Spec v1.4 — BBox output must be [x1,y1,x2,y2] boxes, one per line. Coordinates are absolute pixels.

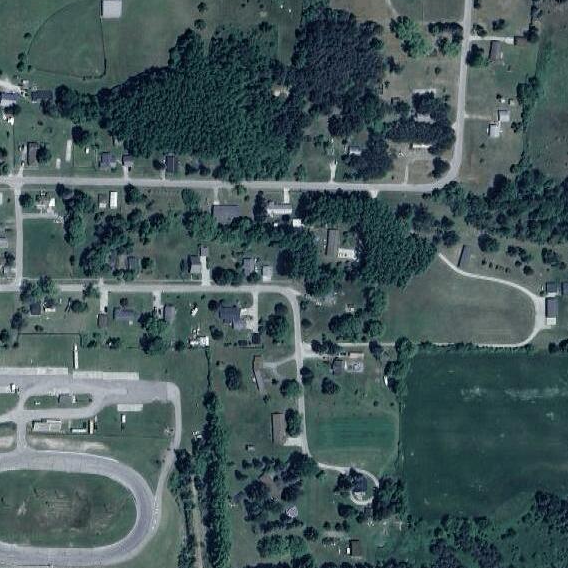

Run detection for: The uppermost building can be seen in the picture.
[102,0,123,19]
